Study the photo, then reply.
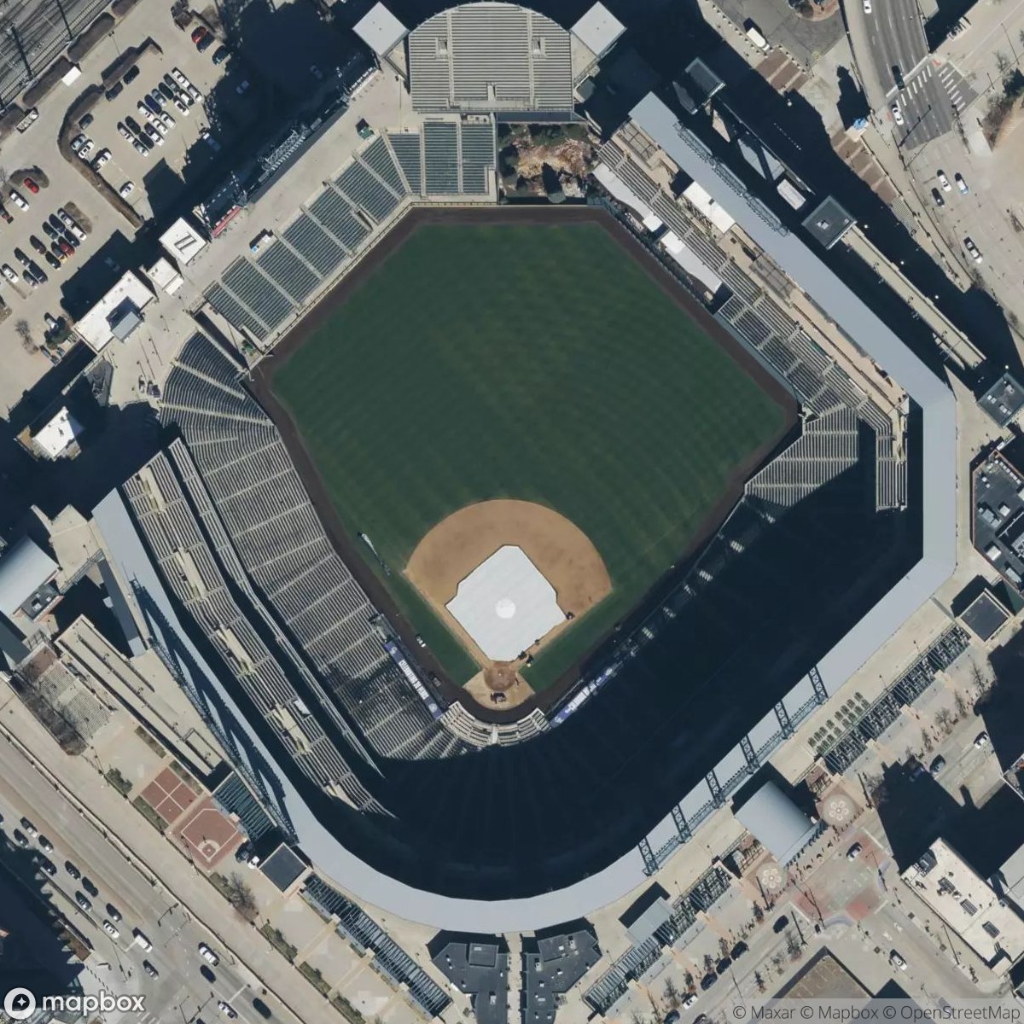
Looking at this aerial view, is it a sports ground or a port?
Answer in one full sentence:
This image shows a sports ground.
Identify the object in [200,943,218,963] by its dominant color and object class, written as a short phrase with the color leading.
white vehicle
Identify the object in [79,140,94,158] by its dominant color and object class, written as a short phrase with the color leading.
white car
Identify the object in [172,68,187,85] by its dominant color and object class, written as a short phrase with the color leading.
white car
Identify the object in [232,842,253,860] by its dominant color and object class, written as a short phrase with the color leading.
black vehicle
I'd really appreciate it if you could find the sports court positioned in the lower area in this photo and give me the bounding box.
[141,767,198,825]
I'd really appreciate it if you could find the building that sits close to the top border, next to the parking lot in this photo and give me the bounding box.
[353,3,410,59]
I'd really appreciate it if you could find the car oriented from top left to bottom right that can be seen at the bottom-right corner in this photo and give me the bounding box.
[891,952,907,970]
